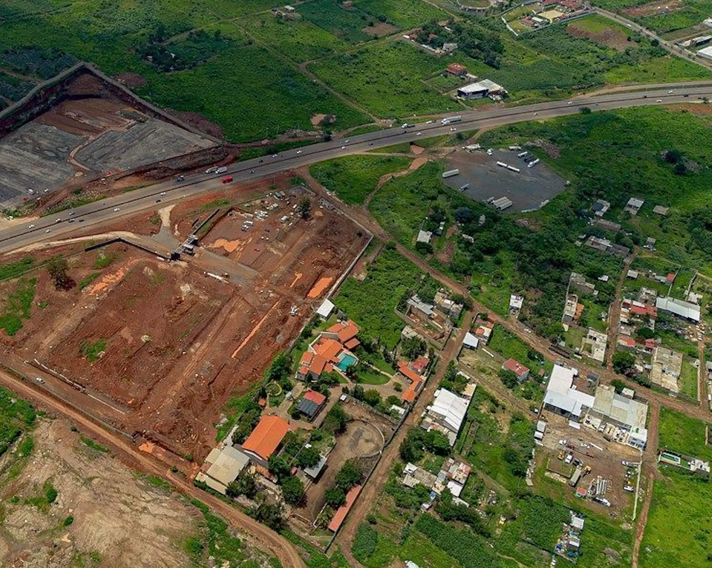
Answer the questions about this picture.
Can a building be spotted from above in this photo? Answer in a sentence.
Yes, I can see a building in this picture.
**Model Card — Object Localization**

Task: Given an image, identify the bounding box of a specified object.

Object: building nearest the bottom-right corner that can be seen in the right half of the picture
[690,459,710,483]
